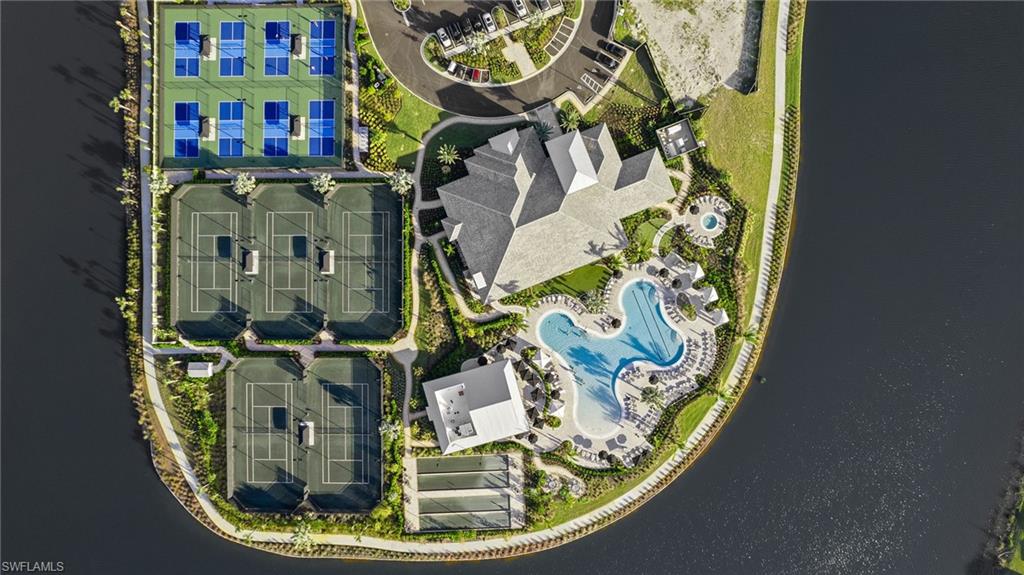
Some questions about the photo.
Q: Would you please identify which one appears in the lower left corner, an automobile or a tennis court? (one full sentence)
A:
There is a tennis court in the lower left corner.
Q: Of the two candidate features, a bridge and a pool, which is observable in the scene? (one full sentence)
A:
Looking from above, you can make out a pool.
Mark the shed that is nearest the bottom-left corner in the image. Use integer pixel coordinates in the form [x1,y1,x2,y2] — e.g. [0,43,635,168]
[186,362,215,377]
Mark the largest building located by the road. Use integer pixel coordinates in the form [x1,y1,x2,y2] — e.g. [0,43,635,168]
[437,122,677,304]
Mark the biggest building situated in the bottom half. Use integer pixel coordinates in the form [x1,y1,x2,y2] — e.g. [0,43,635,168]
[423,360,529,455]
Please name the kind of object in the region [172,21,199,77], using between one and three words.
sports court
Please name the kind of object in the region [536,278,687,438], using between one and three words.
swimming pool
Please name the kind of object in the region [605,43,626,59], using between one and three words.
car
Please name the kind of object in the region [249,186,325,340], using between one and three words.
tennis court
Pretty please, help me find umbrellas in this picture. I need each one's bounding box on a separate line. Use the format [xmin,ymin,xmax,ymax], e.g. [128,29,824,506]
[648,374,658,384]
[598,449,608,459]
[525,405,539,419]
[477,356,487,366]
[550,389,561,399]
[526,371,540,385]
[496,343,506,353]
[629,451,643,465]
[688,205,699,215]
[607,452,617,463]
[611,318,621,329]
[659,268,669,278]
[532,415,546,429]
[528,433,538,443]
[671,278,681,288]
[613,268,623,279]
[505,337,519,351]
[544,372,554,382]
[530,388,544,402]
[511,357,524,371]
[640,448,651,458]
